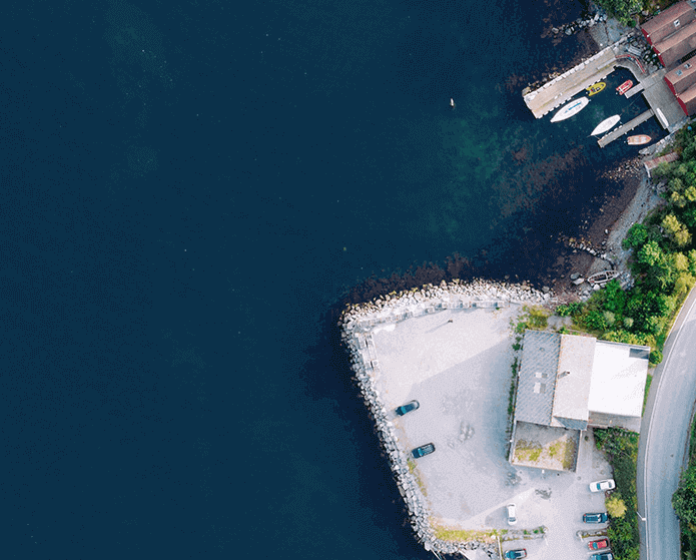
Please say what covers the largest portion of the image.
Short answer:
water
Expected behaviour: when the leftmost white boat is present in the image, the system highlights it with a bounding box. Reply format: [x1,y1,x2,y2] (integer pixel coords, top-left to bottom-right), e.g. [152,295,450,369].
[551,96,590,122]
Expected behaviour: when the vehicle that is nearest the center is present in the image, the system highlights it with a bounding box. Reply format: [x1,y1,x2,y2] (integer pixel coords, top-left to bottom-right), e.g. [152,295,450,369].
[395,400,419,416]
